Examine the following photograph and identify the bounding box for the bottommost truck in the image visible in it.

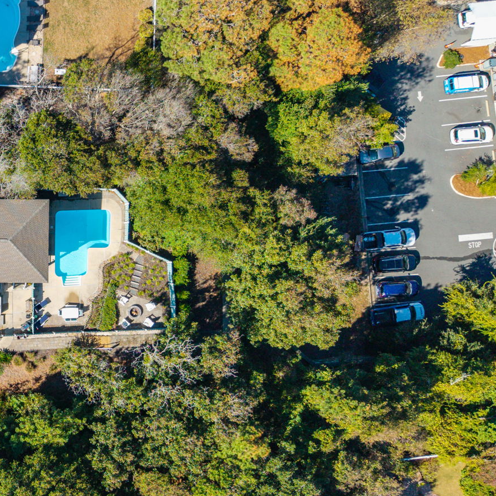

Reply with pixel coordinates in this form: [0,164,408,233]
[371,304,429,326]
